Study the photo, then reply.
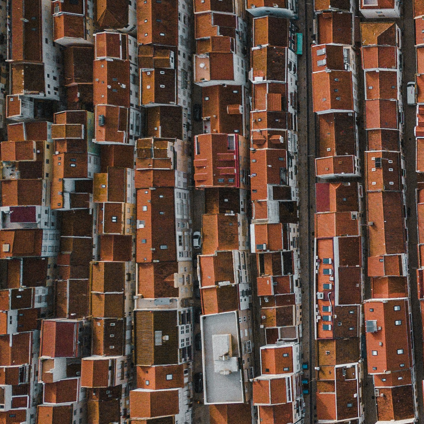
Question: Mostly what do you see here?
buildings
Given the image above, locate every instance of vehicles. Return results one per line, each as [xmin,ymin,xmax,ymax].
[407,84,416,104]
[193,103,203,122]
[193,231,202,248]
[194,333,202,352]
[193,306,202,325]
